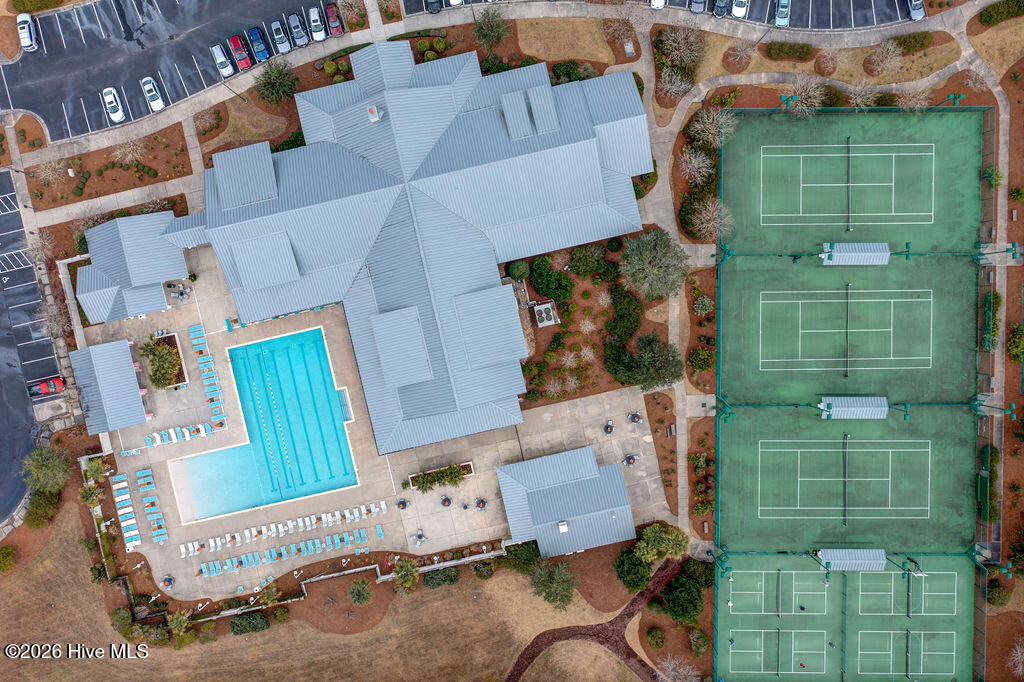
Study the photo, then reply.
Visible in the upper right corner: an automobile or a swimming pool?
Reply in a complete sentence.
Looking in the upper right corner, you will find an automobile.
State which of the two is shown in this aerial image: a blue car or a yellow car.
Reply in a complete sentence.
Visible in the photo is a blue car.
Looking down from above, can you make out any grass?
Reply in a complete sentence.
Yes, the picture does contain grass.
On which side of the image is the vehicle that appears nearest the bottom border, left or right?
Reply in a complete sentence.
The vehicle that appears nearest the bottom border is on the left side of the image.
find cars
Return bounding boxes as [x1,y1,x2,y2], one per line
[104,88,127,125]
[229,34,254,73]
[210,42,236,81]
[649,0,665,11]
[17,15,41,52]
[270,19,294,57]
[905,0,925,23]
[689,0,706,15]
[248,26,271,64]
[427,0,443,15]
[327,2,345,39]
[309,6,328,44]
[711,0,728,20]
[288,12,311,50]
[143,77,166,114]
[773,0,790,29]
[730,0,748,20]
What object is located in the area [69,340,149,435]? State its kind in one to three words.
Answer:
shed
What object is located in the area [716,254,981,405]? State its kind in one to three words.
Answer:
tennis court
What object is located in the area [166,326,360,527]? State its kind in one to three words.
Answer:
swimming pool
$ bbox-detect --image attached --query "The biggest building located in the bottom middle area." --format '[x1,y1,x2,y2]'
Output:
[496,446,636,558]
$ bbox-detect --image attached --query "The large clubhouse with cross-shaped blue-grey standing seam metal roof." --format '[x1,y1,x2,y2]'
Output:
[204,41,654,456]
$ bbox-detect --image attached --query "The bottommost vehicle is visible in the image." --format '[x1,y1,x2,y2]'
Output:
[26,378,67,398]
